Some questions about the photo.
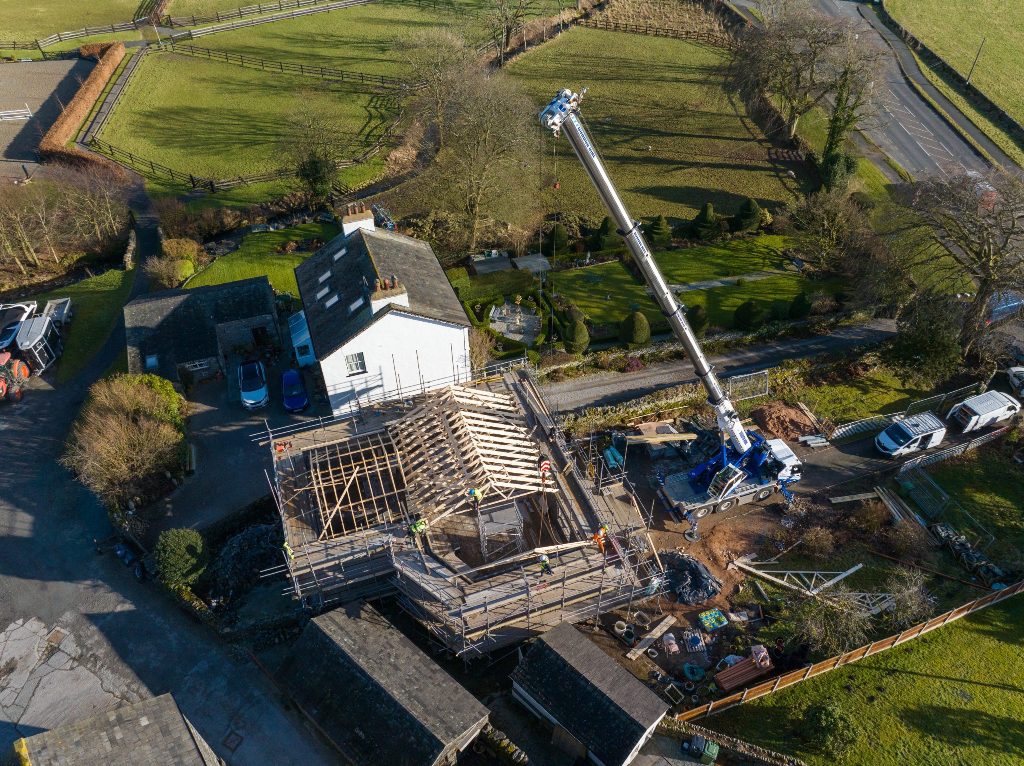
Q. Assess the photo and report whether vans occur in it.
Yes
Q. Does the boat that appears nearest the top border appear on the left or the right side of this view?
left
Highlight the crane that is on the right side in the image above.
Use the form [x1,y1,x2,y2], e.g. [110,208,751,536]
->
[535,73,812,542]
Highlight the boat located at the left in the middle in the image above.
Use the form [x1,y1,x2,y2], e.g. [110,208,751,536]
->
[0,295,30,350]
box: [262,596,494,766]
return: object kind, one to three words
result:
barn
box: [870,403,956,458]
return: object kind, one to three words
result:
van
